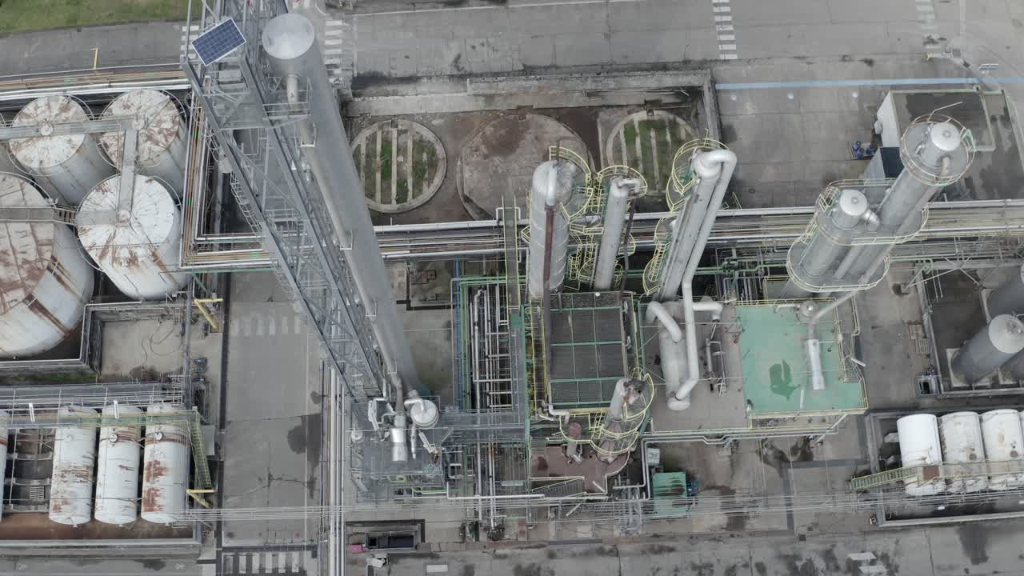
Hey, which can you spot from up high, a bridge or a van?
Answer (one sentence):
There is a bridge in the scene.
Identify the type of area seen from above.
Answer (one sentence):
The area seen from above is an industrial area.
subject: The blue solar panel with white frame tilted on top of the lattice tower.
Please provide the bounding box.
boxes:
[189,17,250,67]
